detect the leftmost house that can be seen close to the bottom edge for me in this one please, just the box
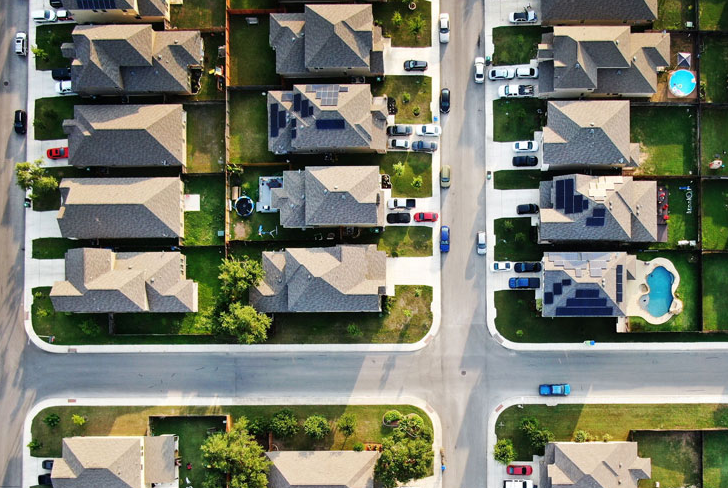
[49,438,151,488]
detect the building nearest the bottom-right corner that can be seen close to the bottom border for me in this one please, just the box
[540,442,651,488]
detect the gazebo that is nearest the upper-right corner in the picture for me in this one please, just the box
[677,47,694,66]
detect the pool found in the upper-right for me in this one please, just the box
[669,67,698,97]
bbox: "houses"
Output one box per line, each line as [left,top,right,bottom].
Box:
[270,3,384,78]
[62,104,186,168]
[51,246,196,312]
[539,171,658,243]
[58,0,185,22]
[249,242,386,312]
[61,23,203,97]
[267,451,386,488]
[56,177,186,239]
[538,25,670,97]
[540,442,651,488]
[271,166,384,228]
[49,438,151,488]
[268,84,388,155]
[543,252,637,317]
[541,99,640,170]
